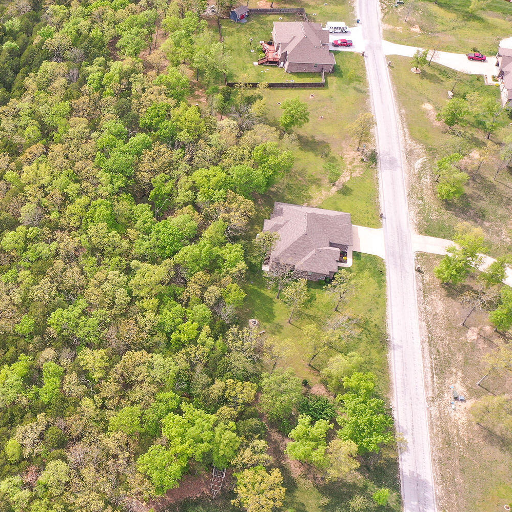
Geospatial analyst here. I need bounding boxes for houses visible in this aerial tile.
[273,22,337,72]
[263,201,353,282]
[496,47,512,109]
